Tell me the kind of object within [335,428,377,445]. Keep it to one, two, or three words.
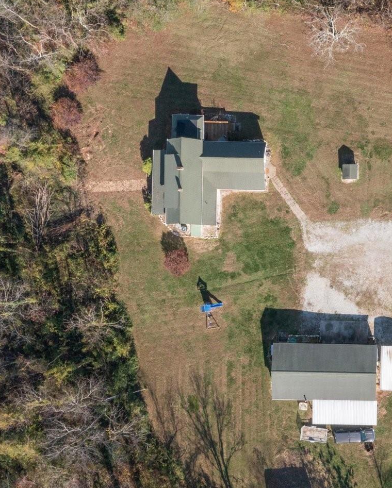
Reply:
vehicle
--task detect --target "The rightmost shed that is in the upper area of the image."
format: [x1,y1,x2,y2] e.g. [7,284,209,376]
[341,163,358,183]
